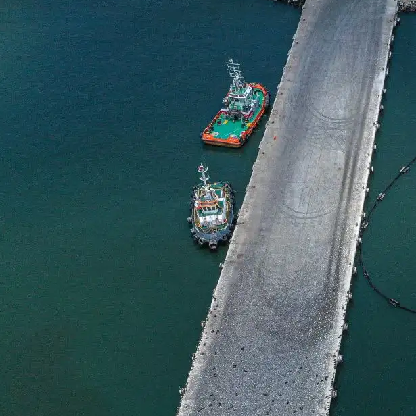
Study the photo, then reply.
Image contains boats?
Yes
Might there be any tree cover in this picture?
No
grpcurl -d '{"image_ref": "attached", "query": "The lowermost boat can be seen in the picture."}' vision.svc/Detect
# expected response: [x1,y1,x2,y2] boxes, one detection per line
[189,169,238,253]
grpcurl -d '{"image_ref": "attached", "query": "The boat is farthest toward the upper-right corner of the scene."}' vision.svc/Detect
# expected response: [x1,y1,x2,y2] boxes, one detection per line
[202,59,271,150]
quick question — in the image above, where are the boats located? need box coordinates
[189,169,238,253]
[202,59,271,150]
